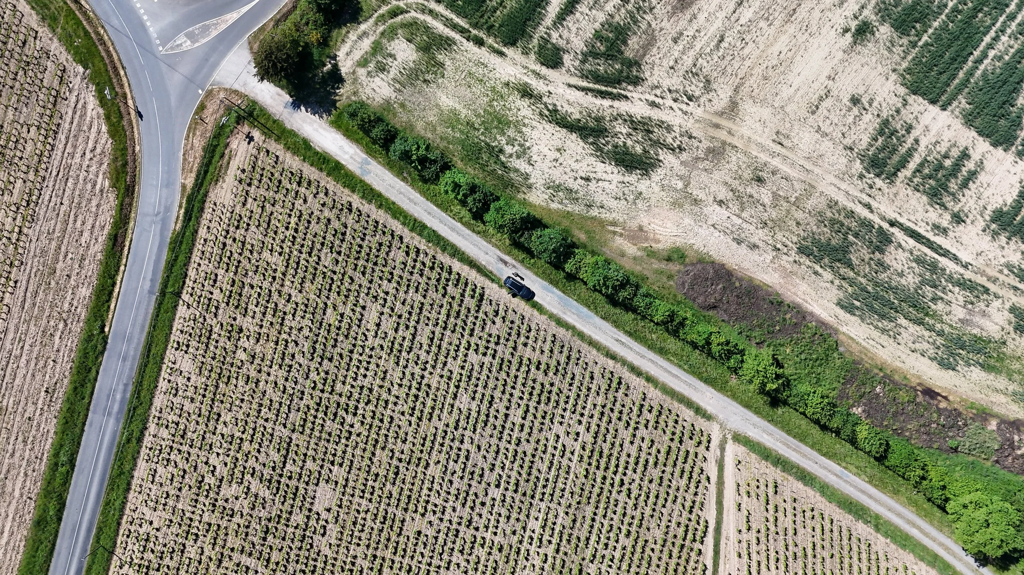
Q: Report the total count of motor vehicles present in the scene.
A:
one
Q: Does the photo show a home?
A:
No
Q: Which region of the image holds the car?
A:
center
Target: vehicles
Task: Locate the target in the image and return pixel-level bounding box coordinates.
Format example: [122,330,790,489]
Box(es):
[502,275,537,302]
